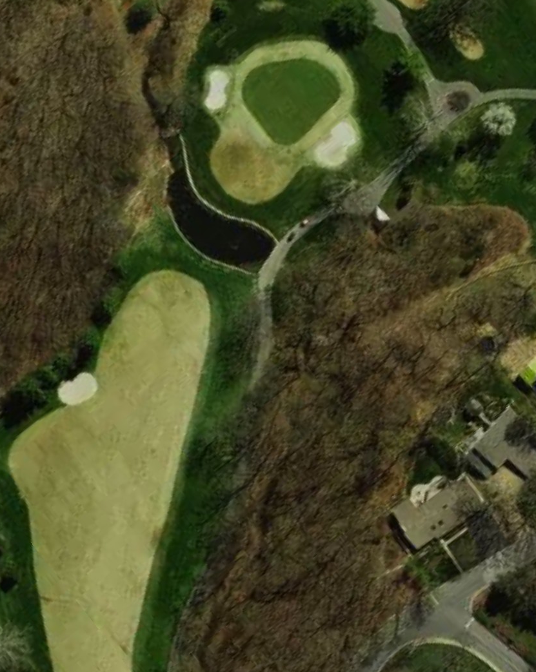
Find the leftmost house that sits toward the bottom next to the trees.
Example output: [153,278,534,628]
[392,474,490,553]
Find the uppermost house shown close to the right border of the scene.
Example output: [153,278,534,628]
[465,407,536,482]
